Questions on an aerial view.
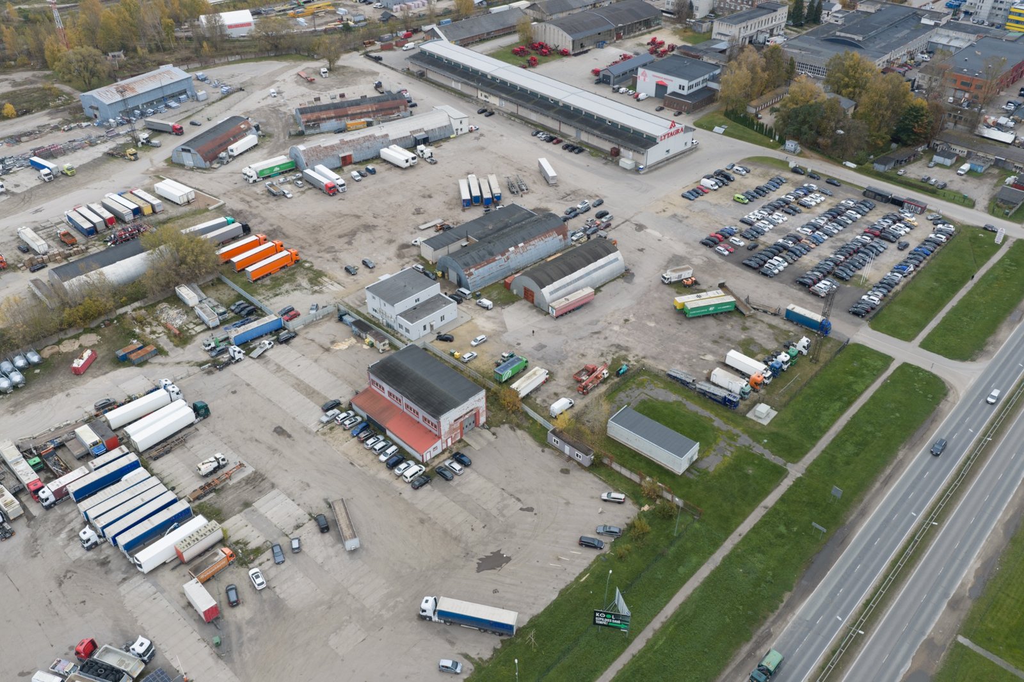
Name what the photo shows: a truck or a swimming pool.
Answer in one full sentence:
It is a truck that can be seen here.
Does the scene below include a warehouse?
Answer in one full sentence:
Yes, looking at the shot, I can spot a warehouse.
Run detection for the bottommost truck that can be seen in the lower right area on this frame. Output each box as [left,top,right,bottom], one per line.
[748,648,784,682]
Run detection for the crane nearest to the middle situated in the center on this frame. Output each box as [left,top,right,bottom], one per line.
[579,360,614,393]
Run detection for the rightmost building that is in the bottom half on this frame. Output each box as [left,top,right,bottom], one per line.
[747,406,779,430]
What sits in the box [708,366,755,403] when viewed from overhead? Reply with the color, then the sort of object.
white truck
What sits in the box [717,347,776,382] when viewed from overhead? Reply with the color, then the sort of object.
white trailer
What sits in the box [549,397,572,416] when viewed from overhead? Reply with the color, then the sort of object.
white vehicle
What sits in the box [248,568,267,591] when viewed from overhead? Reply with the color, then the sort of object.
white car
